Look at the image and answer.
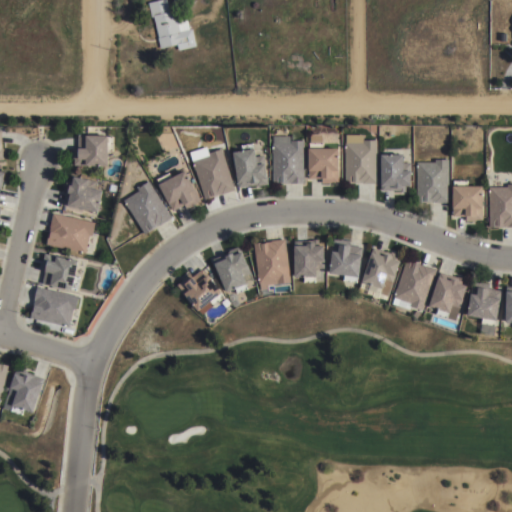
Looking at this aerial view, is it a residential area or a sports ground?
residential area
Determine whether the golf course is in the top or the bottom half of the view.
bottom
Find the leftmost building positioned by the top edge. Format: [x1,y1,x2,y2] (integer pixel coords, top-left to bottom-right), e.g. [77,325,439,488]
[150,0,196,50]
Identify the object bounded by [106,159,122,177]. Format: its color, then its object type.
blue swimming pool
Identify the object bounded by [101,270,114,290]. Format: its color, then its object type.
blue swimming pool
